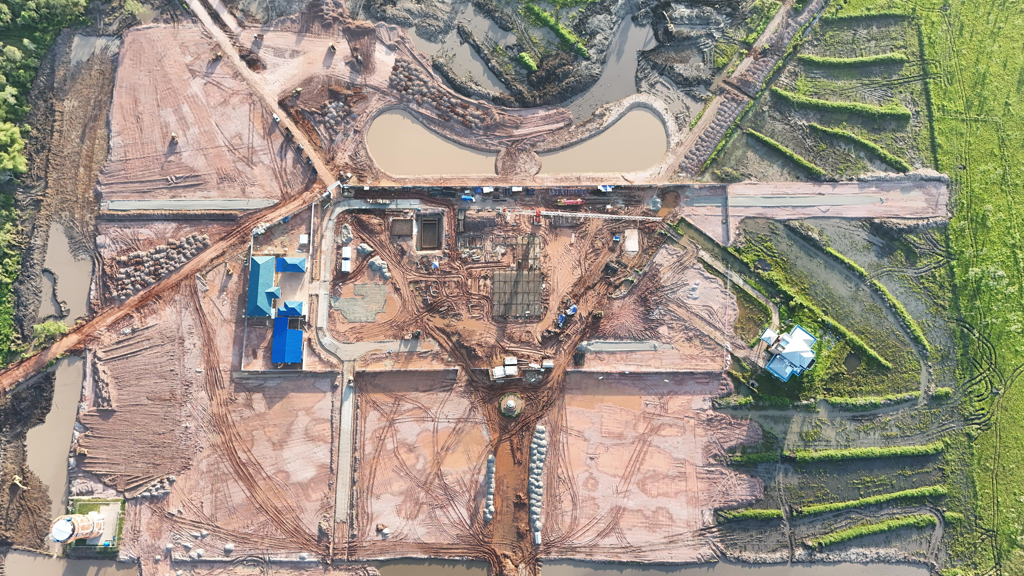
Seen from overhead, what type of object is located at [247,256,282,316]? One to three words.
building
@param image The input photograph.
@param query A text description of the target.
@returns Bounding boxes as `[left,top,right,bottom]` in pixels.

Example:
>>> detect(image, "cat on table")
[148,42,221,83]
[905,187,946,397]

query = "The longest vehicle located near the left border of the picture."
[7,472,27,490]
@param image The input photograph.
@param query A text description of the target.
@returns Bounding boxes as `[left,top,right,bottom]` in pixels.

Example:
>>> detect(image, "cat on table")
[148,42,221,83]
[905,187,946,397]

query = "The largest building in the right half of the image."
[758,324,818,382]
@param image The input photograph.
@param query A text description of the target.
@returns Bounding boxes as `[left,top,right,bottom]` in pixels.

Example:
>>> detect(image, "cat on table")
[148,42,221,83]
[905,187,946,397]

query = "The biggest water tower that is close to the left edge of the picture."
[51,510,109,546]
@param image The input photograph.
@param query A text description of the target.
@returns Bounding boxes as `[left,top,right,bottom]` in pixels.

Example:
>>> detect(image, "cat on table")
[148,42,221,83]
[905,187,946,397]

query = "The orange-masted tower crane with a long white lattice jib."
[499,207,662,228]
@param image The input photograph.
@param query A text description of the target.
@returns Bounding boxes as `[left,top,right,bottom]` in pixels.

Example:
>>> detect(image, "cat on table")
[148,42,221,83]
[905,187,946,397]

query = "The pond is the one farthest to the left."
[367,110,496,175]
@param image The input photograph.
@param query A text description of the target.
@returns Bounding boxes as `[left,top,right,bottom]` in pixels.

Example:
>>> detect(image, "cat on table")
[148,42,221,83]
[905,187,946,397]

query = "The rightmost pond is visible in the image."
[539,108,666,174]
